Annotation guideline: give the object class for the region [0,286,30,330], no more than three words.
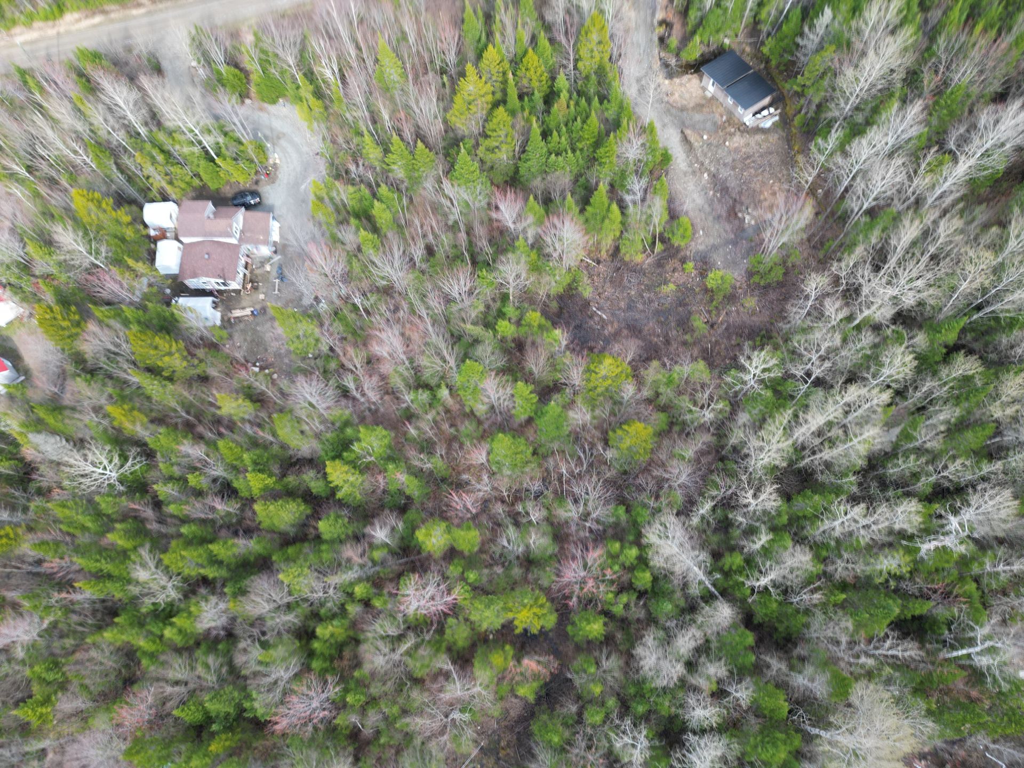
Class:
shed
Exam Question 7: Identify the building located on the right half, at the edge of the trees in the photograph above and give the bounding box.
[700,51,777,123]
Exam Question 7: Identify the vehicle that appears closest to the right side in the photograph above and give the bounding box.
[229,189,260,206]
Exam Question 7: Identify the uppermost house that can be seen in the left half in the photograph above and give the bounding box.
[171,202,275,290]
